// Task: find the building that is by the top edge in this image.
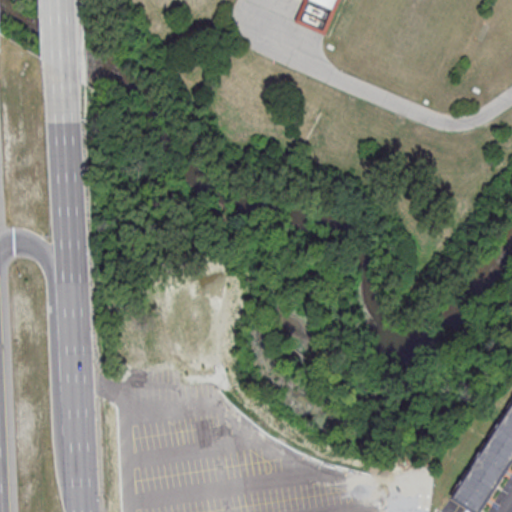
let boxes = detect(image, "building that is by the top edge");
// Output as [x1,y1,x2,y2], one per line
[295,0,340,34]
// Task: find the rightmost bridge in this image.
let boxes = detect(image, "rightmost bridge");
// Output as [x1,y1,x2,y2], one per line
[38,0,87,122]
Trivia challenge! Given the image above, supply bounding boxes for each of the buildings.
[295,0,340,34]
[454,408,512,512]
